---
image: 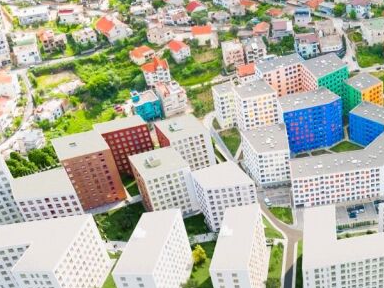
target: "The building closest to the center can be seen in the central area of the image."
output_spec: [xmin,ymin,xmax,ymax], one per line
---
[154,114,212,175]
